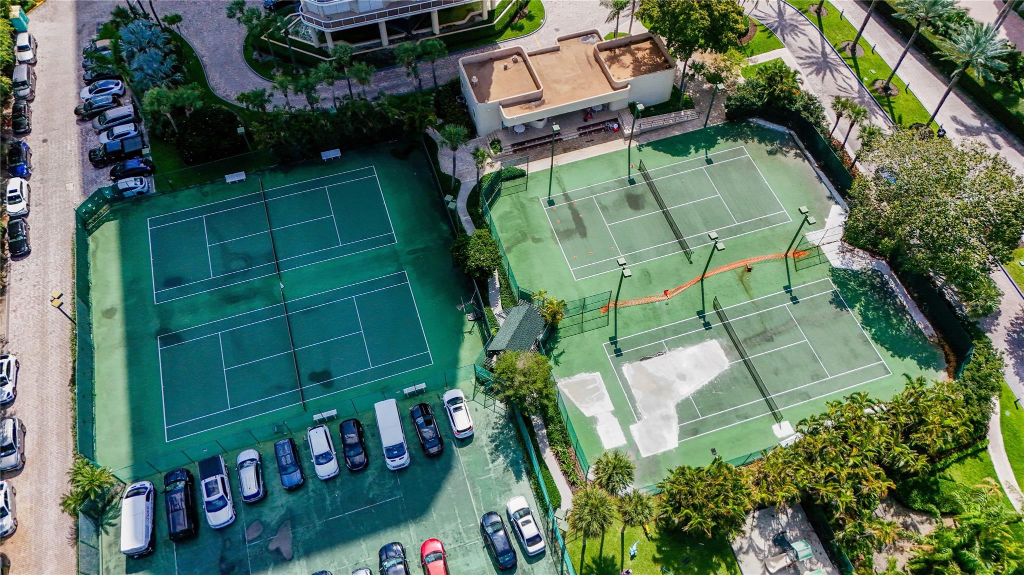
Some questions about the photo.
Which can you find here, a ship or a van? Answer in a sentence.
I can see a van in this picture.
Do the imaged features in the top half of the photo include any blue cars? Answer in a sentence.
Yes, looking in the top half of the photo, one can make out a blue car.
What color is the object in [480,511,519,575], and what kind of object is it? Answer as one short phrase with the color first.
blue car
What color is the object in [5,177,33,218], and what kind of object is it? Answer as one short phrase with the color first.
white car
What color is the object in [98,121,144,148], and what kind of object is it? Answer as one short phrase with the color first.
blue car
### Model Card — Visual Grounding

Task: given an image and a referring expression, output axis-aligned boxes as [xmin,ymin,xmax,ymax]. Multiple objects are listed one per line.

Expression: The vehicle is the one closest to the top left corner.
[13,30,39,64]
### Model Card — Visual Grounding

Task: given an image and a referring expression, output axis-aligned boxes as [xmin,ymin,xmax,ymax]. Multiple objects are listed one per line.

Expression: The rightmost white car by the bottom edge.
[507,497,546,559]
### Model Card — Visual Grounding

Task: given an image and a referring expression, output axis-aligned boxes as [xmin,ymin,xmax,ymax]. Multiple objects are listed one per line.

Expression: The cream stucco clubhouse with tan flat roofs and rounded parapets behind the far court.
[460,29,676,137]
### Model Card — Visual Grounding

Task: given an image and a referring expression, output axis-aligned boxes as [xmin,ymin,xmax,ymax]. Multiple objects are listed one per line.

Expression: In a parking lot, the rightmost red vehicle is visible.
[421,536,453,575]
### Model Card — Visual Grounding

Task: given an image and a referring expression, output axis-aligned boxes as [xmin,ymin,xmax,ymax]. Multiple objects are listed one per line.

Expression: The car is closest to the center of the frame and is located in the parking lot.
[443,389,476,443]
